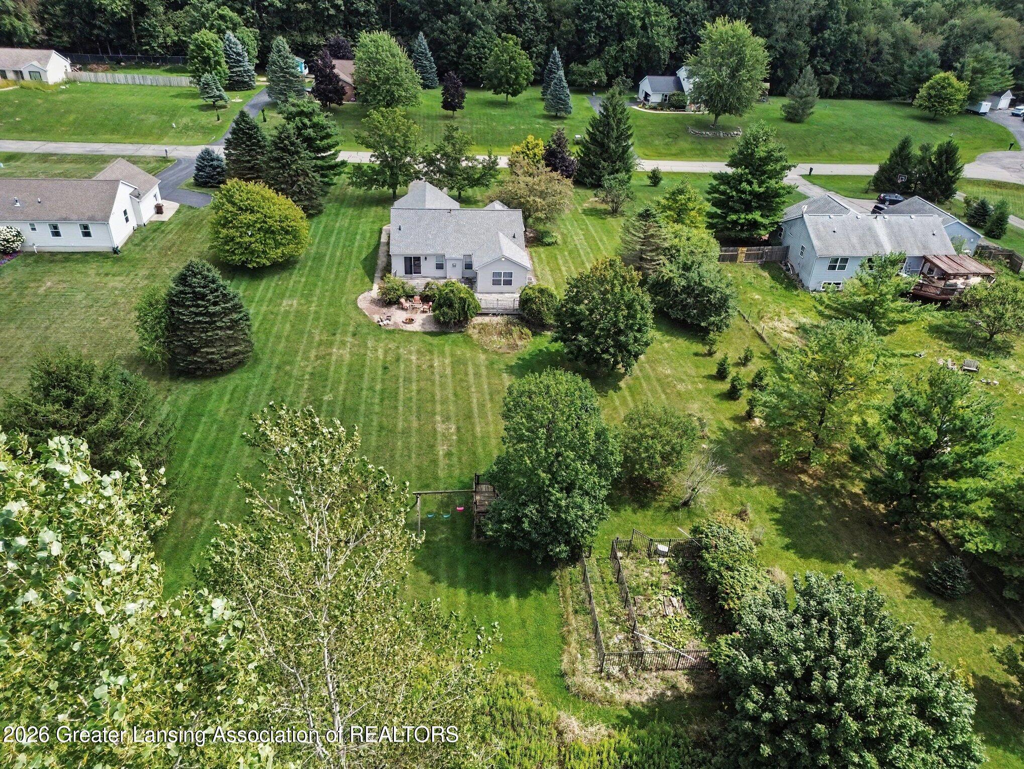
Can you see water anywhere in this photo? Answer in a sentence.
No, the scene doesn't show any water.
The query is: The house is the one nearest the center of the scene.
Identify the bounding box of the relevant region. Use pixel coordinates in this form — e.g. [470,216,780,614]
[388,183,532,292]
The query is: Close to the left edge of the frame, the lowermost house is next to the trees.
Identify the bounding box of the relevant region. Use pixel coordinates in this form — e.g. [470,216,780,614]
[0,156,167,254]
